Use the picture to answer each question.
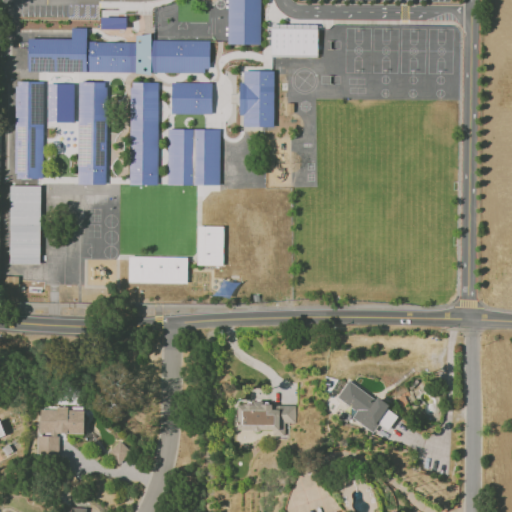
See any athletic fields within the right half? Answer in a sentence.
Yes, the scene does show an athletic field within the right half.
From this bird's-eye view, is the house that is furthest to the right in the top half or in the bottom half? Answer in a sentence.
The house that is furthest to the right is in the bottom half of the image.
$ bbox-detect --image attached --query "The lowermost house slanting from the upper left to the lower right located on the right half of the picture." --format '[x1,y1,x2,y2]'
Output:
[340,384,398,432]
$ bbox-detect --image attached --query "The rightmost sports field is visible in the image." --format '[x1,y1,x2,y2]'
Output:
[295,100,458,302]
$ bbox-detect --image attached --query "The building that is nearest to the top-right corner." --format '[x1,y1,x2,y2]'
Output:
[272,24,318,57]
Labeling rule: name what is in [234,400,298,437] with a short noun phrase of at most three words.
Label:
house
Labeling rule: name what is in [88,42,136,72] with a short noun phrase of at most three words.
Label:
building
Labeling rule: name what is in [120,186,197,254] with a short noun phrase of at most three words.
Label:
sports field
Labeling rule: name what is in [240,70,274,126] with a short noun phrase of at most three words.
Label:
building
